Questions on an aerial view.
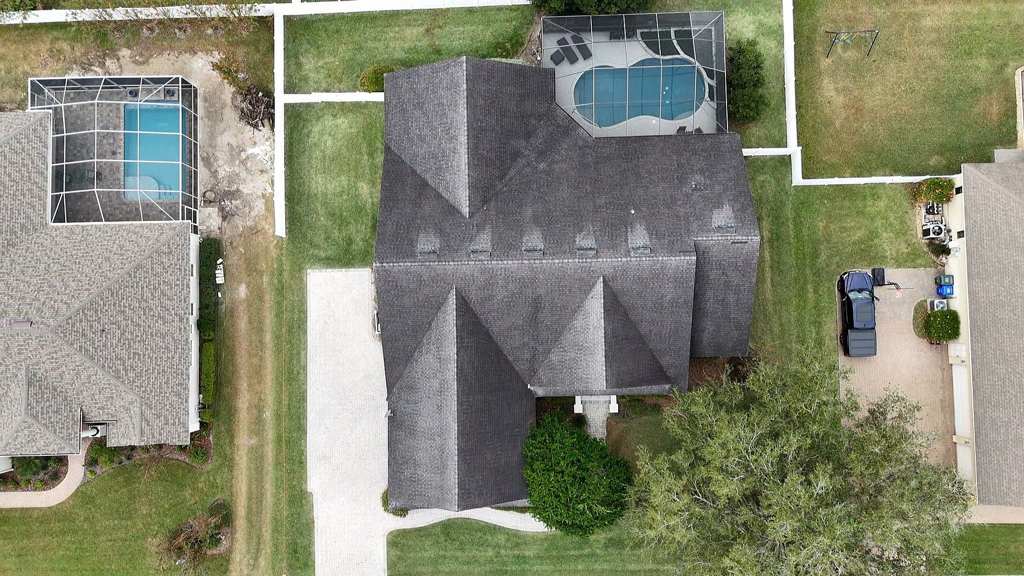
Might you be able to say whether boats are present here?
No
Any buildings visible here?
Yes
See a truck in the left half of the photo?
No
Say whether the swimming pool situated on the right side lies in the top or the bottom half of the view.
top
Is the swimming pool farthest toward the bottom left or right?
left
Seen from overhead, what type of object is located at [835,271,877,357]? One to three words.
truck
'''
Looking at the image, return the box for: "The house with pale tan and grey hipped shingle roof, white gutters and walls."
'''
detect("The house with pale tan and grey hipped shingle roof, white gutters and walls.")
[0,109,204,473]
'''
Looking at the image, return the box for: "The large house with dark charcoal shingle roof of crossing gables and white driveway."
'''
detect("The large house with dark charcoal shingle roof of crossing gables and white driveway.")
[373,56,761,511]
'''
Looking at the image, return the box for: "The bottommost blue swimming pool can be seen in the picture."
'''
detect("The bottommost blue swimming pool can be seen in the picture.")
[124,105,180,200]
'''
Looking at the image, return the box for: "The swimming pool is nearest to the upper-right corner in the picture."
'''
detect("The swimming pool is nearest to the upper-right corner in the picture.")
[570,54,708,130]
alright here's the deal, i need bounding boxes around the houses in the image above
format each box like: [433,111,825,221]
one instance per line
[373,56,761,511]
[0,109,204,473]
[944,161,1024,509]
